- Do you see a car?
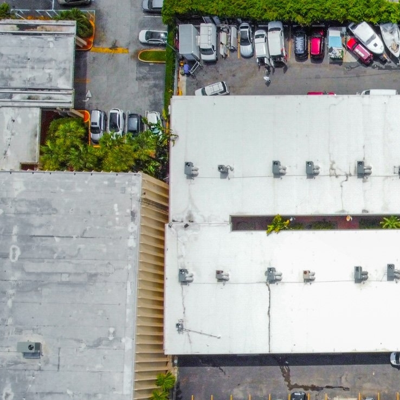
Yes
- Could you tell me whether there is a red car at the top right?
Yes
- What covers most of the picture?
buildings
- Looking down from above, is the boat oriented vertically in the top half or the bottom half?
top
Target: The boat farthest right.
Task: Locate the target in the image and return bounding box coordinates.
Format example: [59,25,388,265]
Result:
[378,15,400,60]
